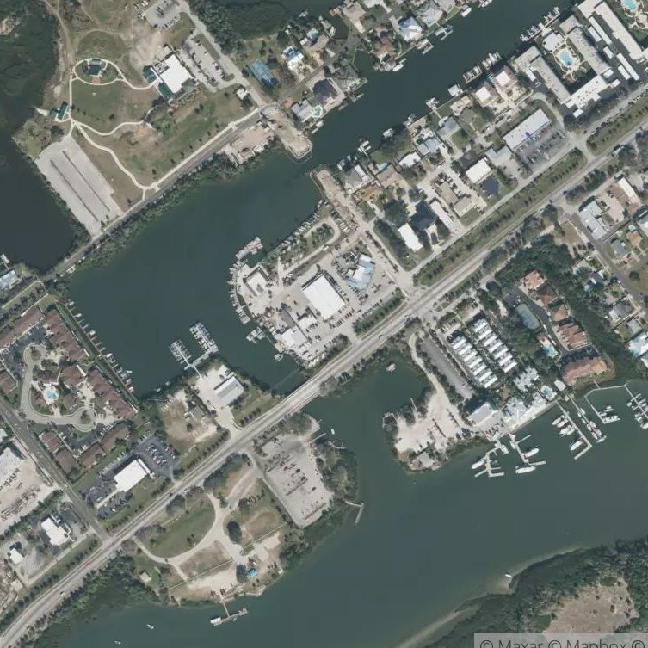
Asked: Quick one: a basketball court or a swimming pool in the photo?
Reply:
swimming pool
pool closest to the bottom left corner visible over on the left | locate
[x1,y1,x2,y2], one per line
[39,385,63,405]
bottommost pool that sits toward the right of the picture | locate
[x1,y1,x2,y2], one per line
[541,385,557,401]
